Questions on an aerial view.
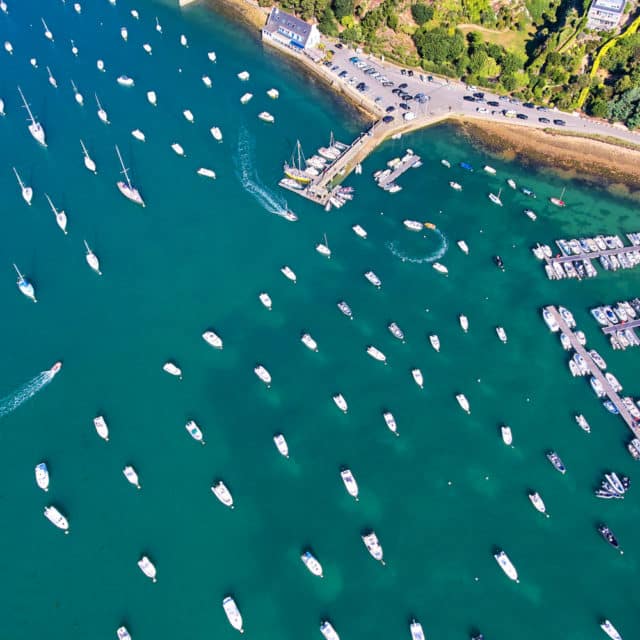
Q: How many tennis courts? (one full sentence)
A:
The picture shows no tennis courts.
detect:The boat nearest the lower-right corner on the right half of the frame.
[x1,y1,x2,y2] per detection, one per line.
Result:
[598,617,621,640]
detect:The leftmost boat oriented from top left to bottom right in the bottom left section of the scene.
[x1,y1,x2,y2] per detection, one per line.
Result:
[46,509,70,533]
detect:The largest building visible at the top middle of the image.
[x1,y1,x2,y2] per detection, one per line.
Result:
[259,6,327,52]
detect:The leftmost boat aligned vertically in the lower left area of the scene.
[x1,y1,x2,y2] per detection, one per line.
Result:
[34,464,49,492]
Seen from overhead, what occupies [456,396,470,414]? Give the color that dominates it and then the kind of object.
white boat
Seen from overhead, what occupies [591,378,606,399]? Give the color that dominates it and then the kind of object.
white boat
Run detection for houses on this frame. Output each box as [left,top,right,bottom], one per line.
[587,0,632,31]
[259,6,327,52]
